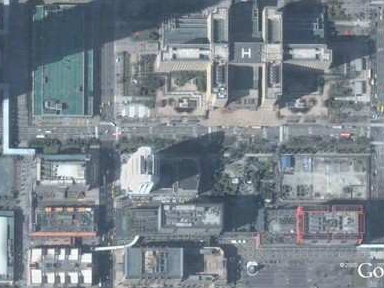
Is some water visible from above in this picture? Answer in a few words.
No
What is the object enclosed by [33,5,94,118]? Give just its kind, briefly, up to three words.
building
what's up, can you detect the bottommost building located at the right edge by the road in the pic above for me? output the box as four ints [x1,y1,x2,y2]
[295,205,365,248]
